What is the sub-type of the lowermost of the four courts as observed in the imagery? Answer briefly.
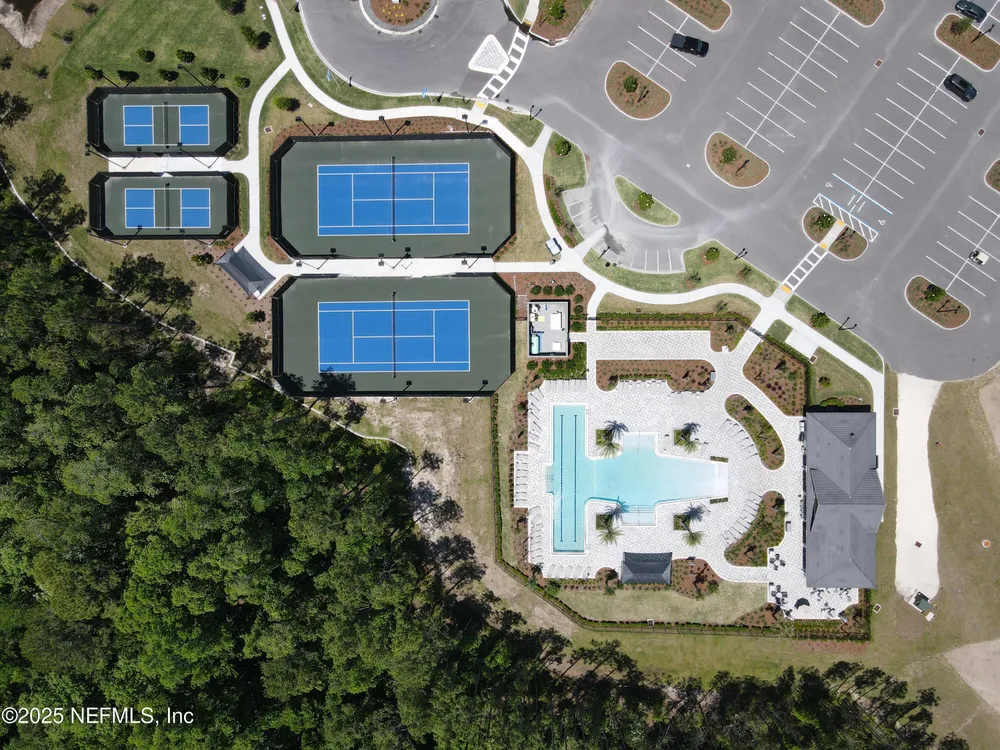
tennis court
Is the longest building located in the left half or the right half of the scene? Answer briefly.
right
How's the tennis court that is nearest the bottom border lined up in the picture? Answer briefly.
from side to side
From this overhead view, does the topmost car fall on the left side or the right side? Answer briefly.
right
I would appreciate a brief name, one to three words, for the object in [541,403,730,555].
swimming pool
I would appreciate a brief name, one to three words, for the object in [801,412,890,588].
building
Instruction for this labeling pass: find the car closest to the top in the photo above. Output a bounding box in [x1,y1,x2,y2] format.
[954,0,988,22]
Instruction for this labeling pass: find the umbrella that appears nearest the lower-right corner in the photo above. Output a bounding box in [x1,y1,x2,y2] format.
[795,604,812,619]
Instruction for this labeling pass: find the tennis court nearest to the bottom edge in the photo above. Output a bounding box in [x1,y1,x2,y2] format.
[277,277,511,396]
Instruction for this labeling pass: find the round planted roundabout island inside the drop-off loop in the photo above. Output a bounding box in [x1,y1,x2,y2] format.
[358,0,439,36]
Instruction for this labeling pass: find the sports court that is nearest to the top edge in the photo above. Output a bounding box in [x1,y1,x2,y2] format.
[99,95,226,157]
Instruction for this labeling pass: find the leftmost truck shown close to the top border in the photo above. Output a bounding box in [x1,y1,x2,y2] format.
[669,33,710,56]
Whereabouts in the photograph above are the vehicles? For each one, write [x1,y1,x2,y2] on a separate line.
[954,0,988,22]
[944,74,976,103]
[547,238,561,257]
[969,252,991,266]
[669,33,710,56]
